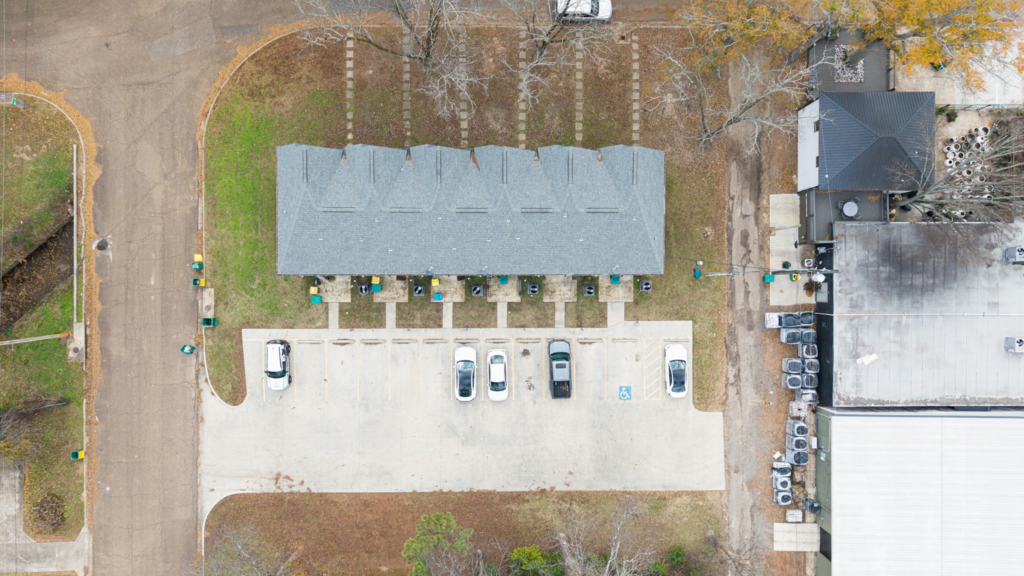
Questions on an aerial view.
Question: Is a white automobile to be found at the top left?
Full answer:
No, at the top left there is no white automobile.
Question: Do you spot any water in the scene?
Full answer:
No, water can't be seen anywhere here.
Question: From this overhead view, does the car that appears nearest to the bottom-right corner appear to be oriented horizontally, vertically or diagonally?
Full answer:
In this picture, the car that appears nearest to the bottom-right corner is oriented vertically.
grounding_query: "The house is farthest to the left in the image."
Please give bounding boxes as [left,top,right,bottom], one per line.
[275,144,666,276]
